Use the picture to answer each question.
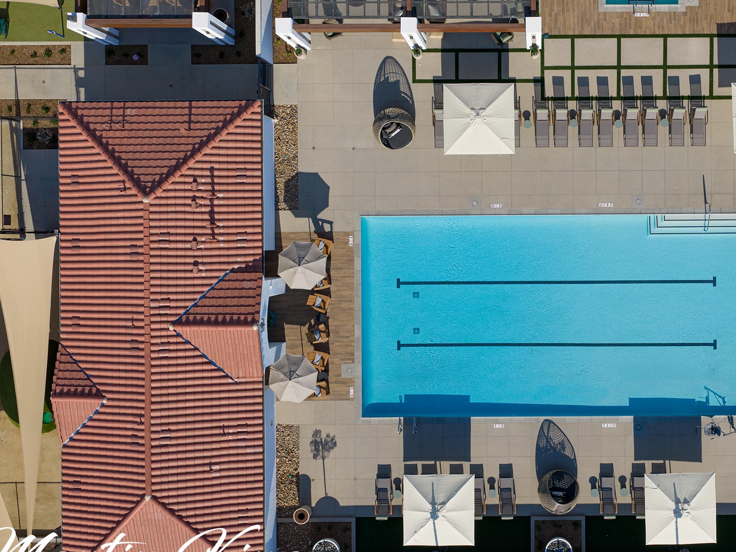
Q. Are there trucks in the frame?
No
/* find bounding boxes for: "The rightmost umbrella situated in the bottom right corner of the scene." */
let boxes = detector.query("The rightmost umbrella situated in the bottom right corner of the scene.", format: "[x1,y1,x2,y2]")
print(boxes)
[644,472,717,545]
